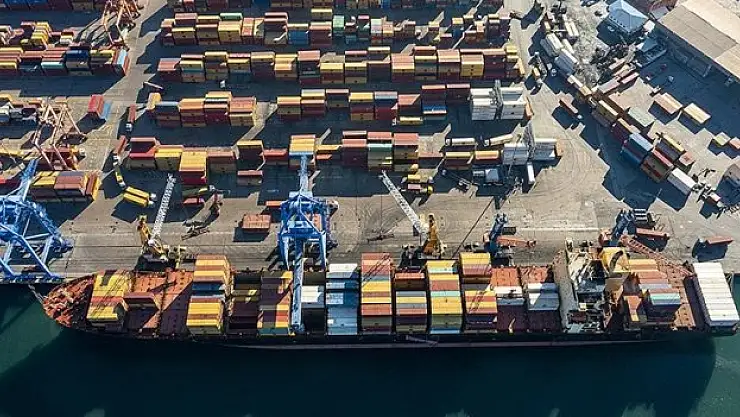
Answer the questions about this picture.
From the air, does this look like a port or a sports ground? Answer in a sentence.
It's a port.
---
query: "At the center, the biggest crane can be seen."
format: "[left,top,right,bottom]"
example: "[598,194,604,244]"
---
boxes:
[273,151,333,335]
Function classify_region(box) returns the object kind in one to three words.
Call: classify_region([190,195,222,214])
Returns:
work vehicle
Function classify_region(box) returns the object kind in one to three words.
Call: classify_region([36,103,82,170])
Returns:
crane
